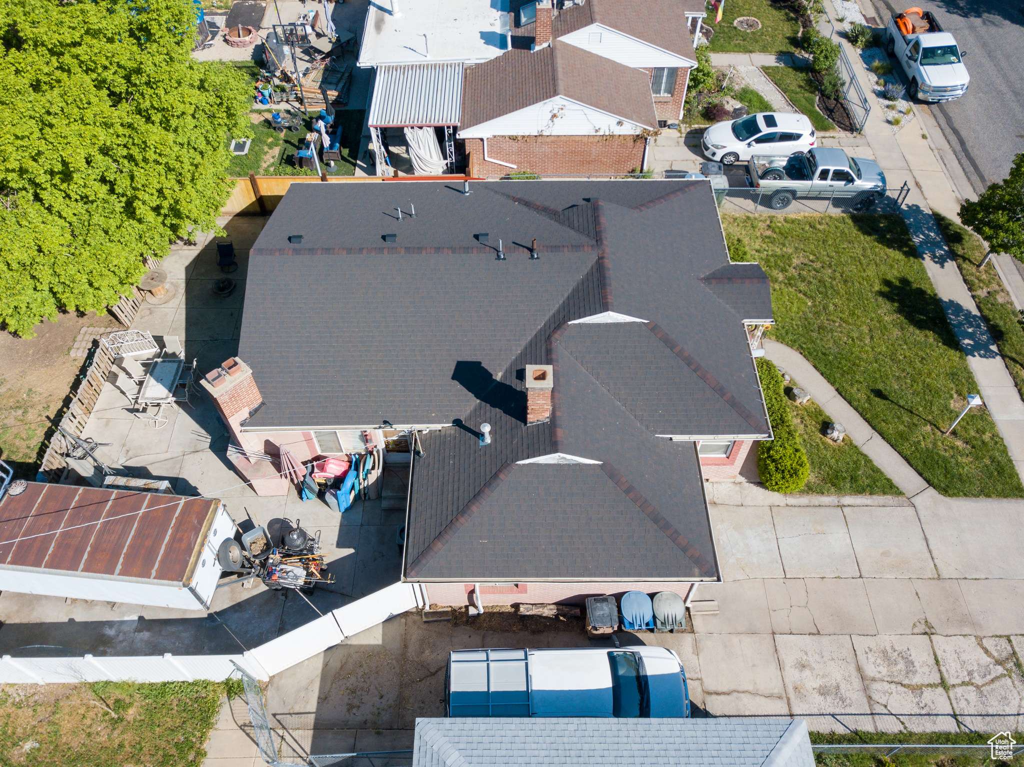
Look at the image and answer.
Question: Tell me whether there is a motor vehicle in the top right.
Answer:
Yes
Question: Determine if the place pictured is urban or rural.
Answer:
urban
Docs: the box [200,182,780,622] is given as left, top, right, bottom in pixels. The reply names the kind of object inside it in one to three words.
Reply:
house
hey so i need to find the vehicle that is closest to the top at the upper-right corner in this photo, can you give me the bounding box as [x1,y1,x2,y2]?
[880,13,969,101]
